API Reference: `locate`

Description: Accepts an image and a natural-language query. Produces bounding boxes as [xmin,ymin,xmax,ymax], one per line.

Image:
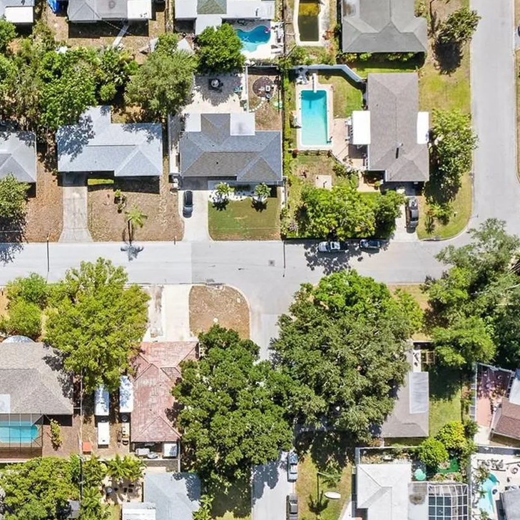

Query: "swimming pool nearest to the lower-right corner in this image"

[478,473,500,518]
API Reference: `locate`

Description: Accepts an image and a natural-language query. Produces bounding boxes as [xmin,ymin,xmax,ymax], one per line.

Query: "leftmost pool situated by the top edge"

[237,23,272,52]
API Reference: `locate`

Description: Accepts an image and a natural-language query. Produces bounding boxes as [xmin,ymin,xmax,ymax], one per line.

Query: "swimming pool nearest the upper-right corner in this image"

[296,0,324,42]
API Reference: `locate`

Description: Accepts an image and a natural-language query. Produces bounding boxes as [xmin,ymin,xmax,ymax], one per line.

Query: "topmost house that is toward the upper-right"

[335,0,428,56]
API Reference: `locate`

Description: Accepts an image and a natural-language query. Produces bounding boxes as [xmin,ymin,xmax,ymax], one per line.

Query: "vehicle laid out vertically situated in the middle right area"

[405,200,419,229]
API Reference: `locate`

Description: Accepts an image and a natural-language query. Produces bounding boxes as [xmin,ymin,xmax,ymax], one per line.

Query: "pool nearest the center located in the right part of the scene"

[299,89,329,147]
